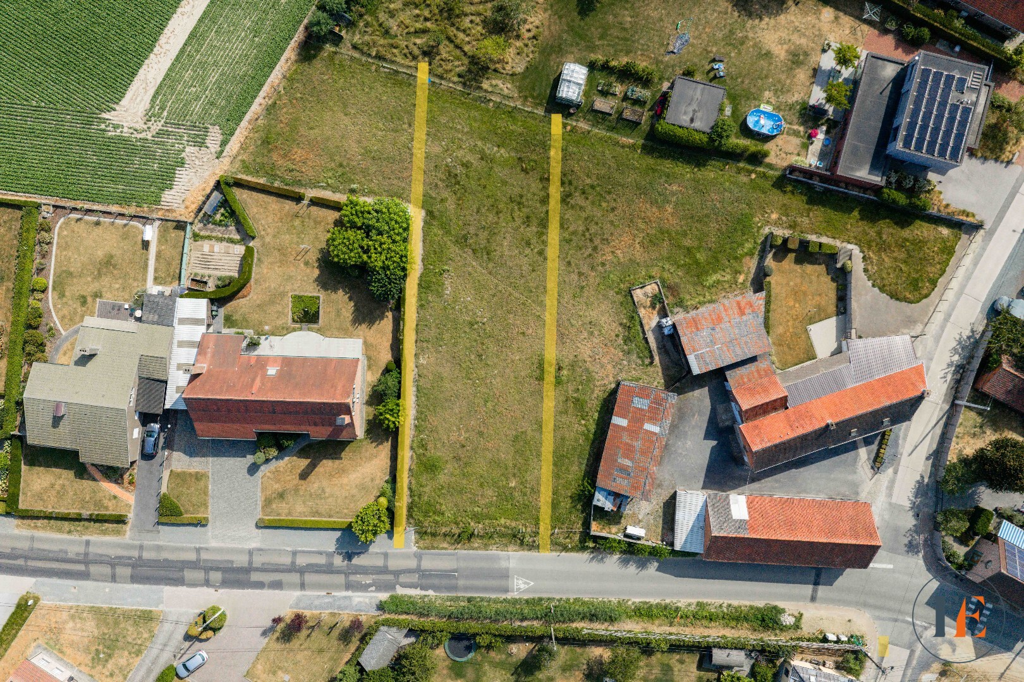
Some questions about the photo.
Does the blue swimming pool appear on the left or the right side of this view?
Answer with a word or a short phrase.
right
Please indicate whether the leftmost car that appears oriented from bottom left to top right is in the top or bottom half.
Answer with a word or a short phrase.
bottom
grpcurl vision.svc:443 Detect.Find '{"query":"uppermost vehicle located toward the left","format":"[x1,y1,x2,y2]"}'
[143,421,163,455]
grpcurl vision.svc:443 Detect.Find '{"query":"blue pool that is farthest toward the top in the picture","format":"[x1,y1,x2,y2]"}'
[743,108,785,138]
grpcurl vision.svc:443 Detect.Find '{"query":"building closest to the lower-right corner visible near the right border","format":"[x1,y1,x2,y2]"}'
[952,520,1024,613]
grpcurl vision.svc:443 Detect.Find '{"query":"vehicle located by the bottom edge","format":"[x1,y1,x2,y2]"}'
[177,650,211,677]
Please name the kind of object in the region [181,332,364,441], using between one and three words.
house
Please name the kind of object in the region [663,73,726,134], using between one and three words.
shed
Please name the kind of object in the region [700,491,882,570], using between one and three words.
barn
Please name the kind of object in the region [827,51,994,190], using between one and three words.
house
